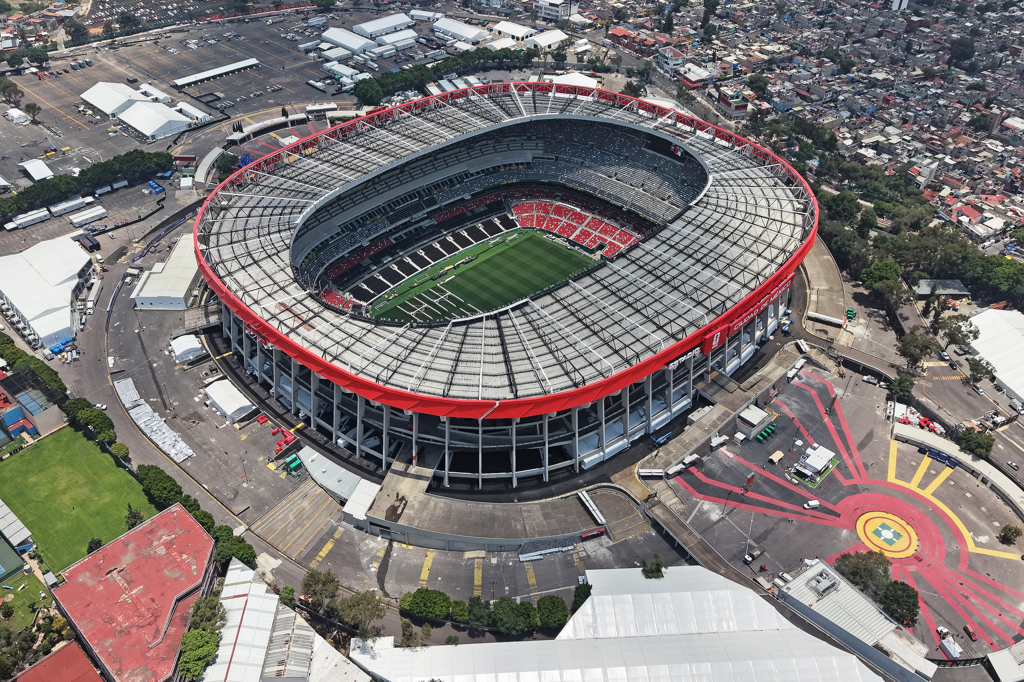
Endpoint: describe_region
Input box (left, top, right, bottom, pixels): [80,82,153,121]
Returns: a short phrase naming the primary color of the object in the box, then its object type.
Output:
white tent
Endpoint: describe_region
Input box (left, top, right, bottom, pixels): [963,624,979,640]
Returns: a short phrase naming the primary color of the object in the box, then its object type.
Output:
red car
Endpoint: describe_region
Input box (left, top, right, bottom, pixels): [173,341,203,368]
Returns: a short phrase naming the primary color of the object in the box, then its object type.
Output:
white tent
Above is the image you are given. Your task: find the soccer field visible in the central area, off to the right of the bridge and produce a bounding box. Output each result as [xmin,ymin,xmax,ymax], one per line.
[379,233,595,325]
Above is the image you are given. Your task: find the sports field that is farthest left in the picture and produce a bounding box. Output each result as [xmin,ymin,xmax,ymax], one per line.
[0,424,170,574]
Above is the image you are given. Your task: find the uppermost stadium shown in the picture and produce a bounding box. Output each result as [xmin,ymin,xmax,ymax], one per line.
[193,81,816,490]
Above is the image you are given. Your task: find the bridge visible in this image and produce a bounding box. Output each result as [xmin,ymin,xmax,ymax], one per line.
[184,299,223,332]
